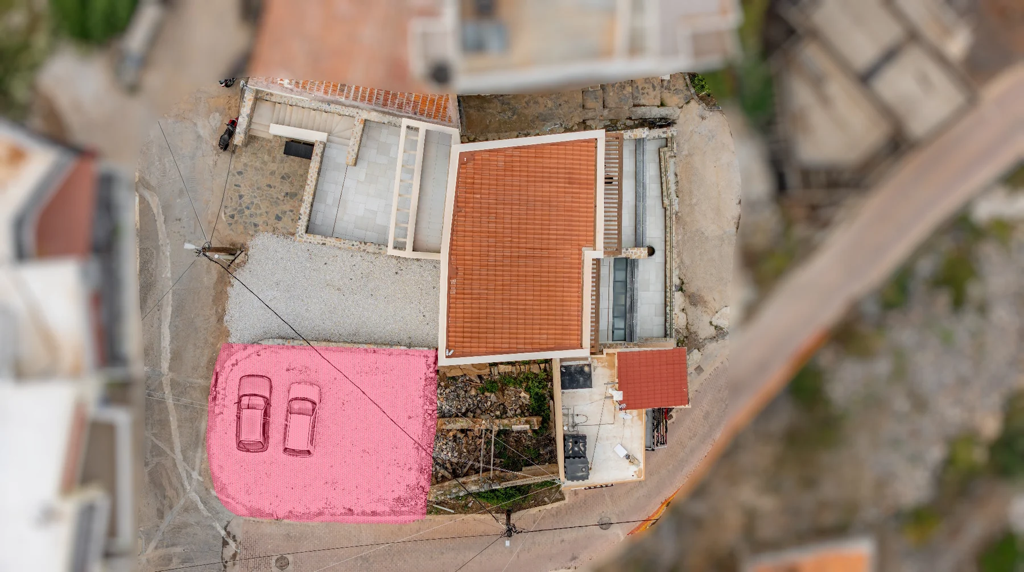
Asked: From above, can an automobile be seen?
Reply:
Yes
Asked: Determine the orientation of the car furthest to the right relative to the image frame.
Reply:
vertically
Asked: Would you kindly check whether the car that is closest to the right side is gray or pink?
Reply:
pink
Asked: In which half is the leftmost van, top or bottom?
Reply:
top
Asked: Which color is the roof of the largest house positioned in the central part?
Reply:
orange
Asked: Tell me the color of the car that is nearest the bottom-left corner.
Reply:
pink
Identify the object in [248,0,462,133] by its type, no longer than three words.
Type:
house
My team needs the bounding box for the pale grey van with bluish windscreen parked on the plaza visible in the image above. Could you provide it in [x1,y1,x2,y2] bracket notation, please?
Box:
[111,0,167,91]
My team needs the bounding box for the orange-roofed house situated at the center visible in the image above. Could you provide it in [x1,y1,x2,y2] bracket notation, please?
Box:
[438,130,605,365]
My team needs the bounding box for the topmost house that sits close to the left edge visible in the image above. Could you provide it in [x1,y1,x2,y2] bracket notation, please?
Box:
[0,113,107,261]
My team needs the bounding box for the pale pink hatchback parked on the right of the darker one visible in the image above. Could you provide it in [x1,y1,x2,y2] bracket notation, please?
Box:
[282,380,323,459]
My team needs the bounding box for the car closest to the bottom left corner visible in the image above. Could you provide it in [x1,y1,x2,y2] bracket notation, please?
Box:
[232,374,273,453]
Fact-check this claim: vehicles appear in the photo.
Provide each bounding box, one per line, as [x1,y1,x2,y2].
[282,380,323,459]
[219,61,248,88]
[220,117,239,152]
[111,0,167,91]
[232,374,273,453]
